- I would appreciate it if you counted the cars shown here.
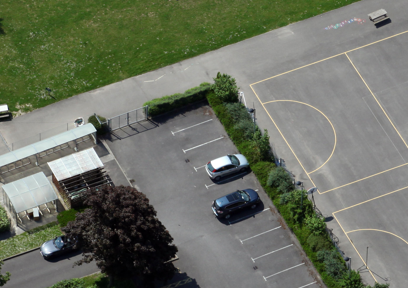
3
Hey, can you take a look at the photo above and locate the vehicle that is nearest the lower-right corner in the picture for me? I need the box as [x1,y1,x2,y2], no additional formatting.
[211,188,261,220]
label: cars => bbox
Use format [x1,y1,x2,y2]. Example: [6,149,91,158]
[42,229,86,257]
[211,188,261,220]
[204,153,249,180]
